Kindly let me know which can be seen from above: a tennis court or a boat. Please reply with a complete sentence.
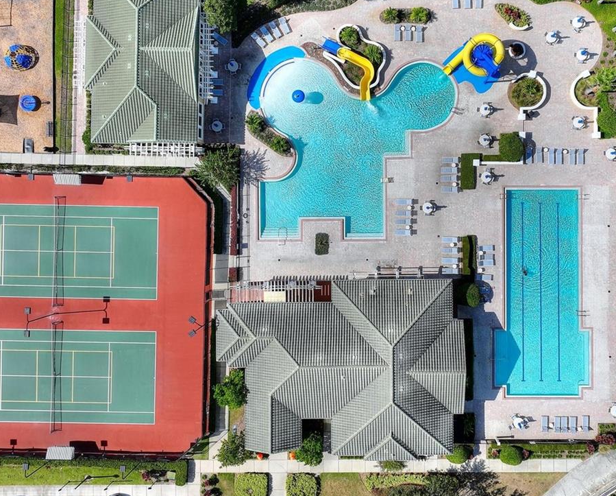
Visible in the photo is a tennis court.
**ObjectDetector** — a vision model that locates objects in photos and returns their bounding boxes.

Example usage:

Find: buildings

[84,0,205,144]
[215,279,467,461]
